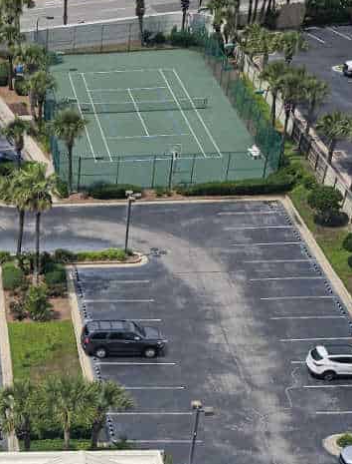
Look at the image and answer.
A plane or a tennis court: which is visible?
tennis court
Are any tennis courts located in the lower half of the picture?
No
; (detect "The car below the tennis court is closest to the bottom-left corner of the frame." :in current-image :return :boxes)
[82,320,163,358]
